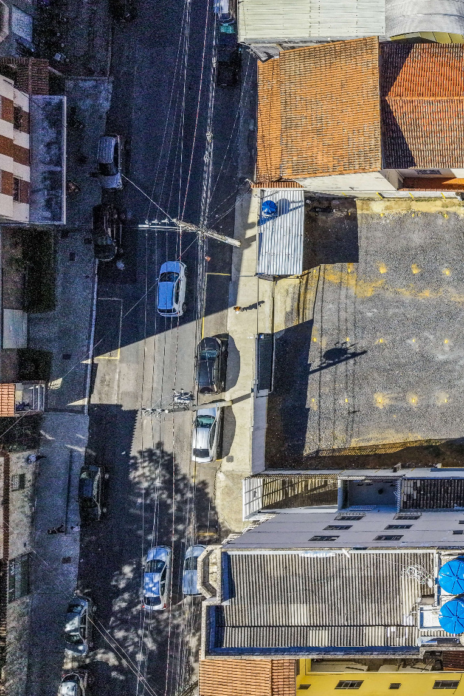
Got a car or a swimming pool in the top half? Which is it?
car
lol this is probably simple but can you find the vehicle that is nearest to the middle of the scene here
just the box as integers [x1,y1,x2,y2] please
[200,335,230,395]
